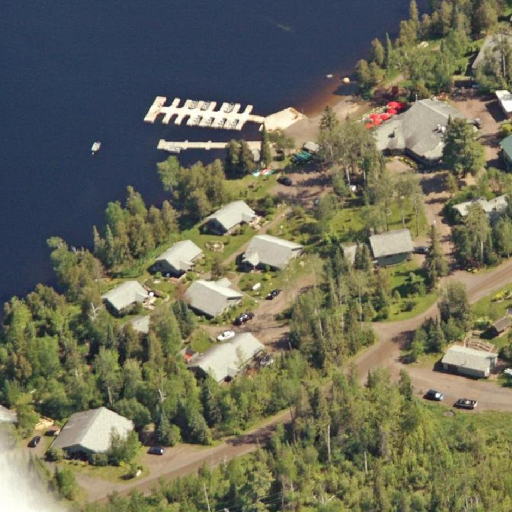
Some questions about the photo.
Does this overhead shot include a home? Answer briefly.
Yes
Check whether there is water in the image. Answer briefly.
Yes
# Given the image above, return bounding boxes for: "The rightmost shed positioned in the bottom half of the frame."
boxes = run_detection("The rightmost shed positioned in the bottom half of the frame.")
[485,309,512,334]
